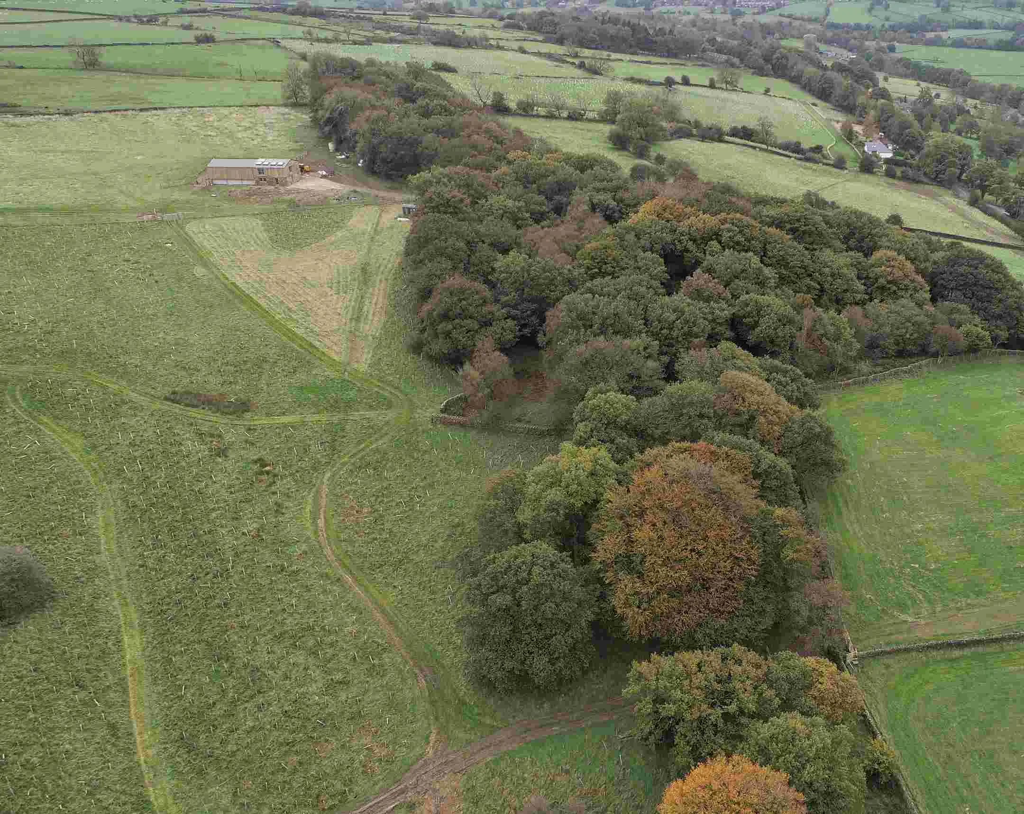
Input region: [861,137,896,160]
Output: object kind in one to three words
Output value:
house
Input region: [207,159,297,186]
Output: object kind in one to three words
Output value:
barn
